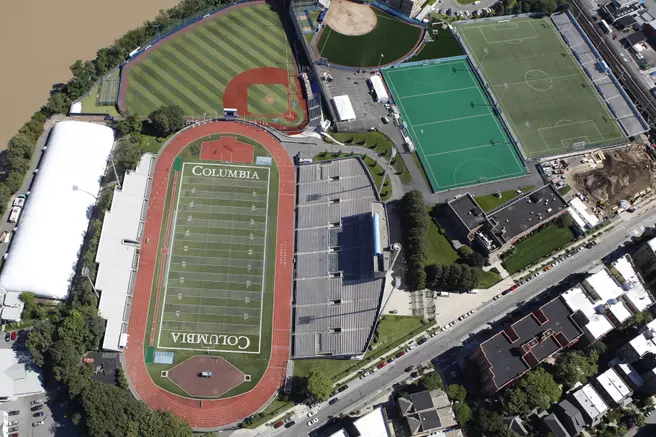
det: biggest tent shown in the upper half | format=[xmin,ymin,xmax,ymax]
[332,95,356,124]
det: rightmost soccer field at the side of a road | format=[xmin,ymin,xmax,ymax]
[455,15,630,158]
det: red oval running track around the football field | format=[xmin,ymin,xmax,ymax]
[120,117,297,434]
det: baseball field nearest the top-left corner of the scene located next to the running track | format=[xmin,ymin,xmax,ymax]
[118,0,308,128]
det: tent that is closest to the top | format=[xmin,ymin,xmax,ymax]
[369,76,388,106]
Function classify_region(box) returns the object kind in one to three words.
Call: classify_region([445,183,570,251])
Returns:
building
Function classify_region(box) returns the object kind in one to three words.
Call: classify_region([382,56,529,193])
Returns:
sports field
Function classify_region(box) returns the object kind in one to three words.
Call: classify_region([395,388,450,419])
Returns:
house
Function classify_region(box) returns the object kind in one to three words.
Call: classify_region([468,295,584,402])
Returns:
building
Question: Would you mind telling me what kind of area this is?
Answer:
sports ground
